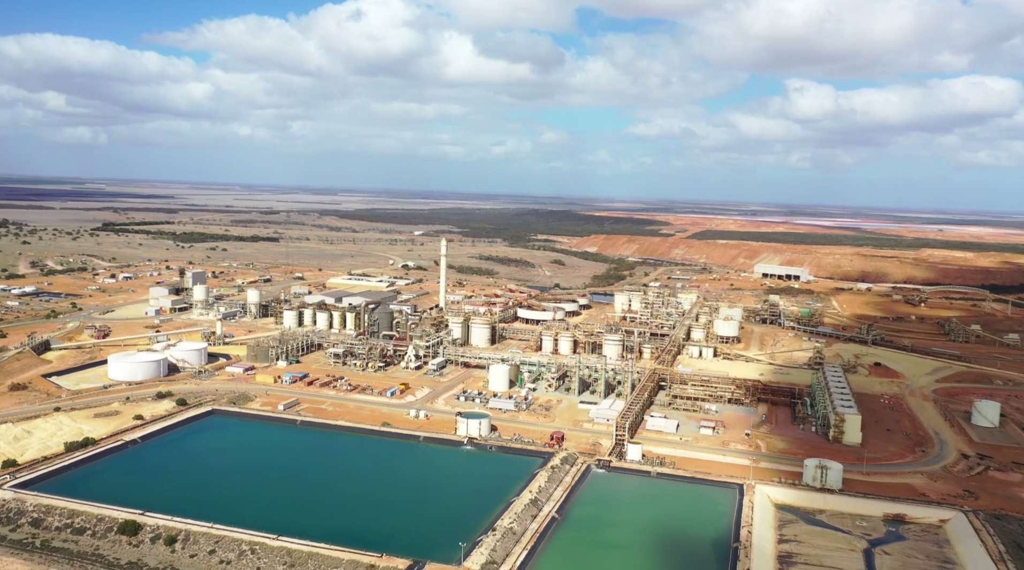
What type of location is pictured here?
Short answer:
industrial area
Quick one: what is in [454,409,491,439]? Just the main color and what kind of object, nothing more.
white storage tank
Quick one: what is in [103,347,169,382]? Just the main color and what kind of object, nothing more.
white storage tank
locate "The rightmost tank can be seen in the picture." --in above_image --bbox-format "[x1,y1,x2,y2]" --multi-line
[970,396,1007,429]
